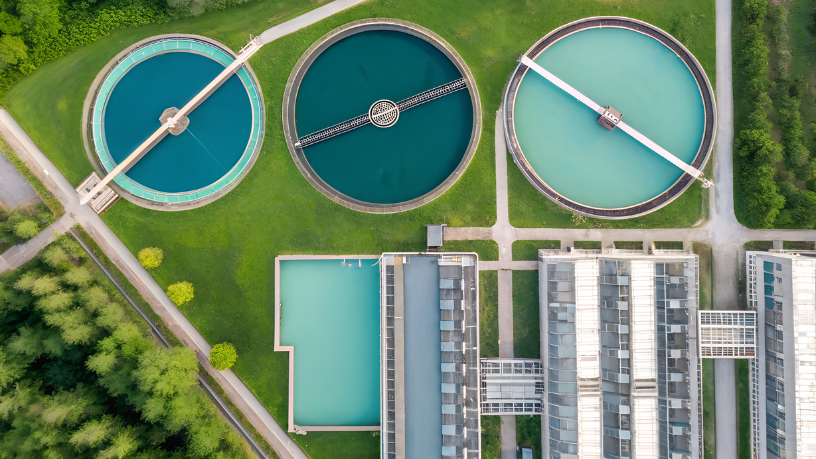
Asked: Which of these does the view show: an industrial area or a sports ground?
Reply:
industrial area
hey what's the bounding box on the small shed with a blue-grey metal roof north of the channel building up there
[426,225,446,252]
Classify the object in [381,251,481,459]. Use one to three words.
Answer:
building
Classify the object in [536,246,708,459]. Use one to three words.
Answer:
building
